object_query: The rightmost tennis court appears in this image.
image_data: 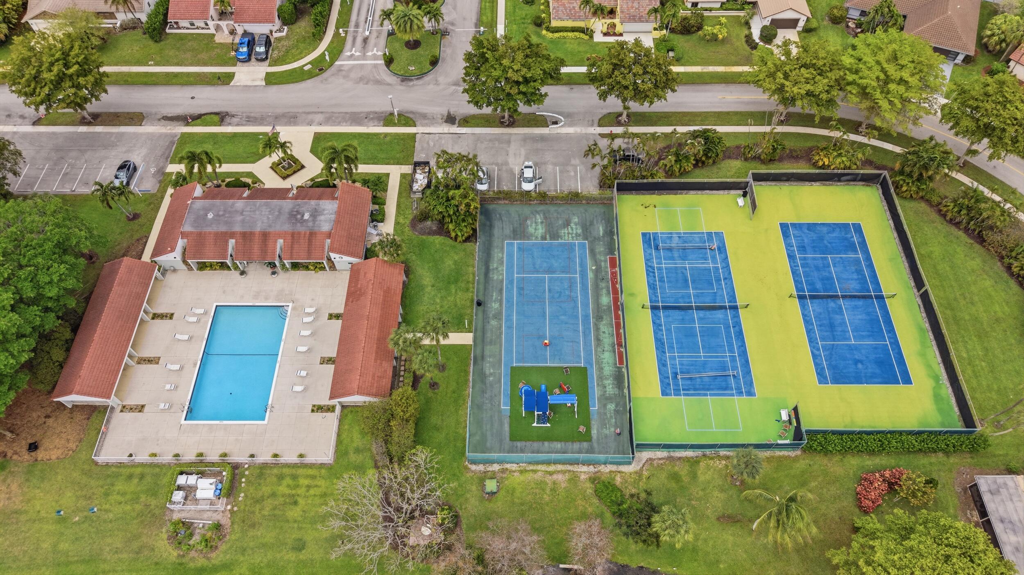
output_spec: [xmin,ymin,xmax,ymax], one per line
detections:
[746,185,961,438]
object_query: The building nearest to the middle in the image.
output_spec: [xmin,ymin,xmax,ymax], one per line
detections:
[329,256,405,407]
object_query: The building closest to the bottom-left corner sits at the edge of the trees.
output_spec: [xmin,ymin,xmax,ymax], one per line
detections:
[51,257,162,407]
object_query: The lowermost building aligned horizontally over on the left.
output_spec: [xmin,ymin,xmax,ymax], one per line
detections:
[149,181,372,271]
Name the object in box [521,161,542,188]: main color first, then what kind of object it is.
white car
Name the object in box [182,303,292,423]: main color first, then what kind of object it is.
blue swimming pool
